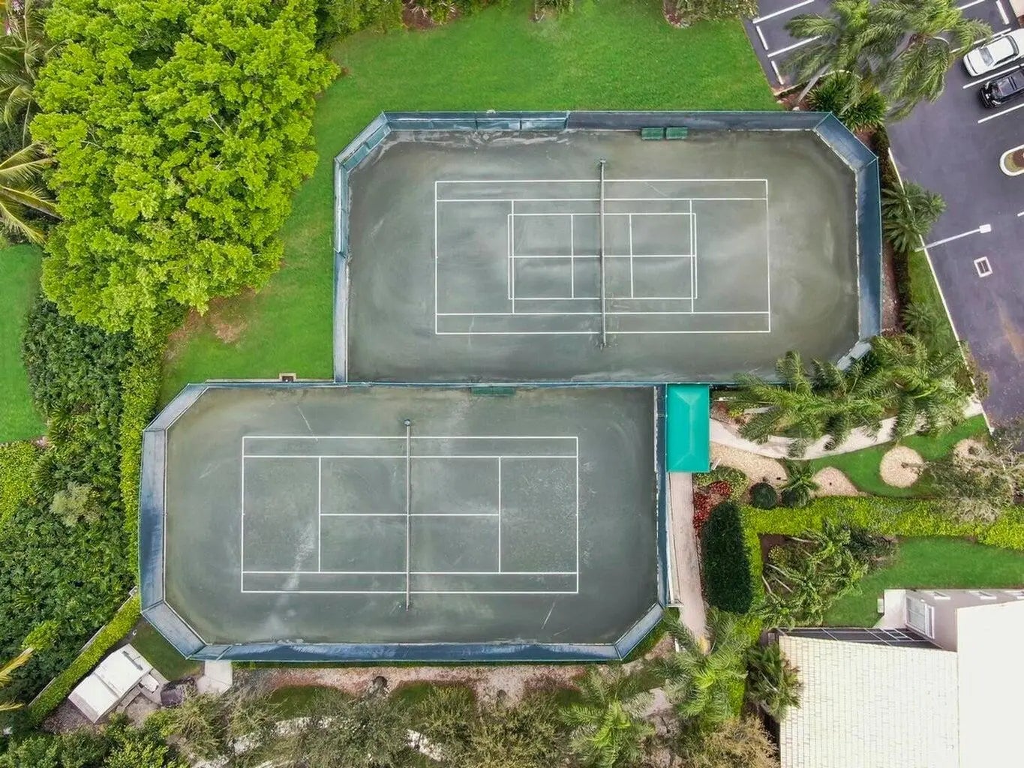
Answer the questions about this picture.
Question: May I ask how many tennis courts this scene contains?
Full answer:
Looking from above, you can make out 2 tennis courts.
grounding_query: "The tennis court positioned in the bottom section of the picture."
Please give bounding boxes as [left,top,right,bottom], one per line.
[163,387,660,646]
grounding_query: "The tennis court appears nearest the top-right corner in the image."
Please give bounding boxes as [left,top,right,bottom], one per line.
[347,129,861,385]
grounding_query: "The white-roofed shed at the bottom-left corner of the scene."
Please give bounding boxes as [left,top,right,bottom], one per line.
[69,643,155,723]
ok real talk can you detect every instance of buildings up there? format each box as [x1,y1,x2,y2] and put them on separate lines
[768,587,1024,768]
[69,643,155,723]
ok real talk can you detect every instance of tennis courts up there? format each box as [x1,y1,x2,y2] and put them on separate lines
[347,129,861,385]
[163,387,660,646]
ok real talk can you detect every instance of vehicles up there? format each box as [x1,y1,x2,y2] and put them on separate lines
[980,67,1024,107]
[964,36,1024,80]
